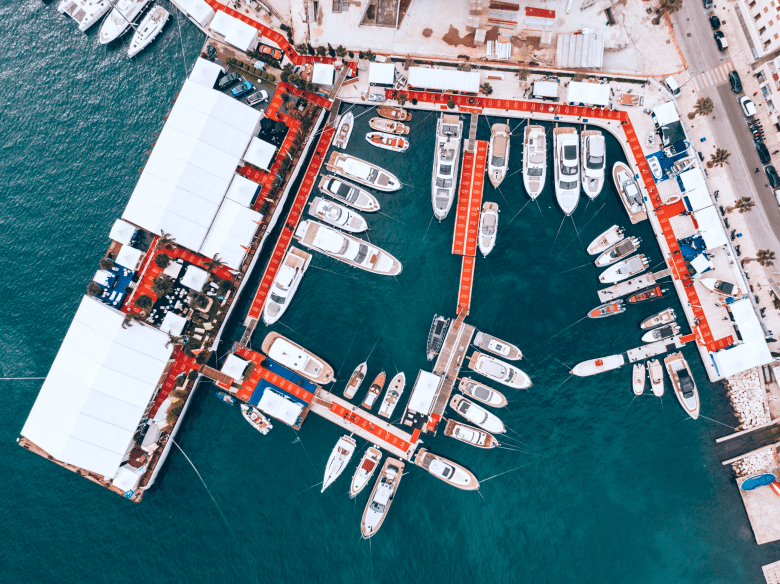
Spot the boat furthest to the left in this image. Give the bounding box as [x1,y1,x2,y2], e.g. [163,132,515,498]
[61,0,118,37]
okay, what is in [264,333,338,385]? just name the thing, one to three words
boat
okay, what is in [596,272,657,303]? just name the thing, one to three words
pier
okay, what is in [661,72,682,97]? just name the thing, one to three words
vehicle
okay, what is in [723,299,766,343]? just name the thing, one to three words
tent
